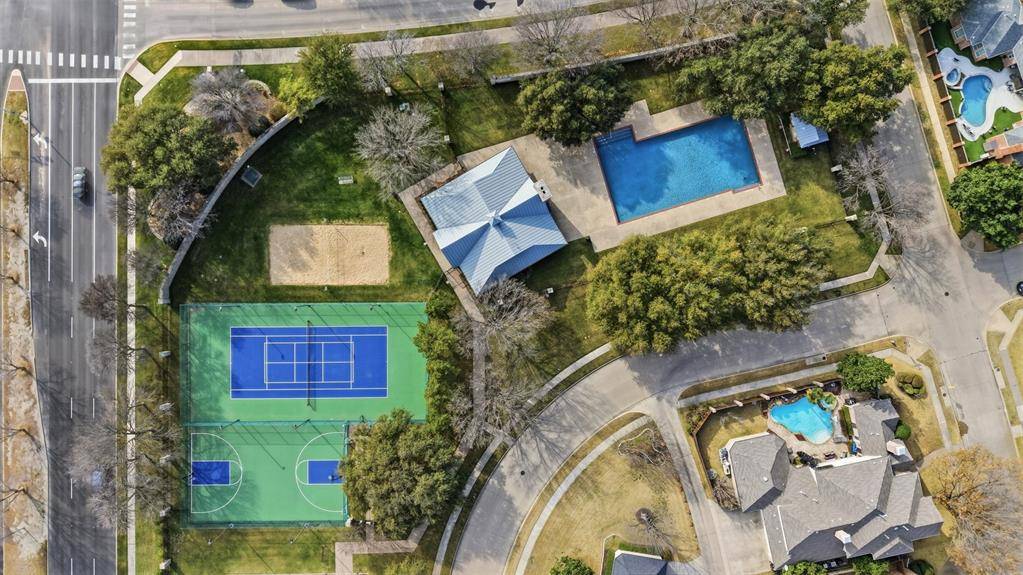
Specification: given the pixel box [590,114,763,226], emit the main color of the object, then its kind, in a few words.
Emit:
blue swimming pool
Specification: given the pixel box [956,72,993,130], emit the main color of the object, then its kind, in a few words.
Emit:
blue swimming pool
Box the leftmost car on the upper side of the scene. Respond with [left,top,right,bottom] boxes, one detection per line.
[70,167,88,198]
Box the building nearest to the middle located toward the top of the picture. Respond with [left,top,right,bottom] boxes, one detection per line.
[421,148,568,296]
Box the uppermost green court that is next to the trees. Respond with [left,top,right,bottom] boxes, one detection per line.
[182,303,428,420]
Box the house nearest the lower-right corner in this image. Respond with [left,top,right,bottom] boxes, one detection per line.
[725,399,943,567]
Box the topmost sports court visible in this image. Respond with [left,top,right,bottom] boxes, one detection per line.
[269,224,390,286]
